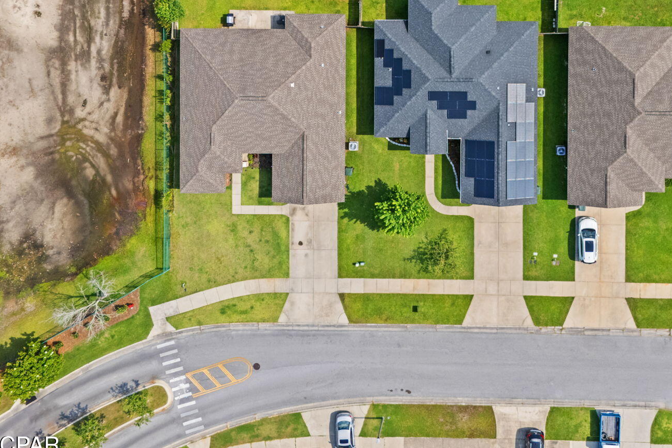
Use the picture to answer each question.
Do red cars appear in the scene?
No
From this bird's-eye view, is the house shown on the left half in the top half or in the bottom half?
top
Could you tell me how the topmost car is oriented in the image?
vertically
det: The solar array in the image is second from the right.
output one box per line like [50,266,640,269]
[465,140,494,198]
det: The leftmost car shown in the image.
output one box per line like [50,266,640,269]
[335,411,357,448]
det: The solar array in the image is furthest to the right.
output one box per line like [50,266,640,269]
[507,84,535,198]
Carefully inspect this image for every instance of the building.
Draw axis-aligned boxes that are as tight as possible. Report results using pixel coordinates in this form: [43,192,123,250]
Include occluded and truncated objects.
[567,26,672,208]
[179,13,346,204]
[374,0,538,206]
